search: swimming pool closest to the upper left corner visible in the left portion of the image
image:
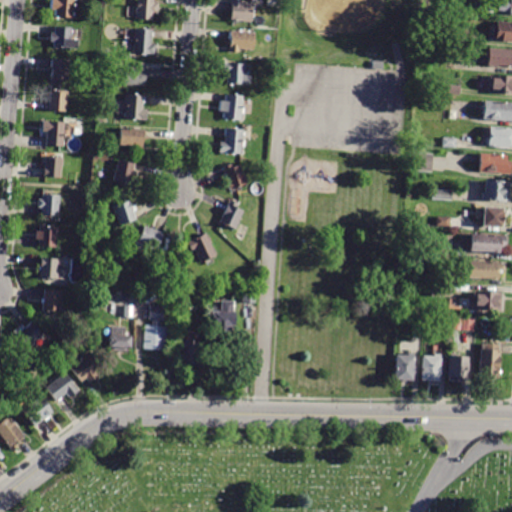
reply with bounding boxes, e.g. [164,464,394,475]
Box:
[67,138,81,154]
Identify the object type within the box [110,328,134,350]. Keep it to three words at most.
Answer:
house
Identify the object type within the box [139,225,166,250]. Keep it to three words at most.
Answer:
house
